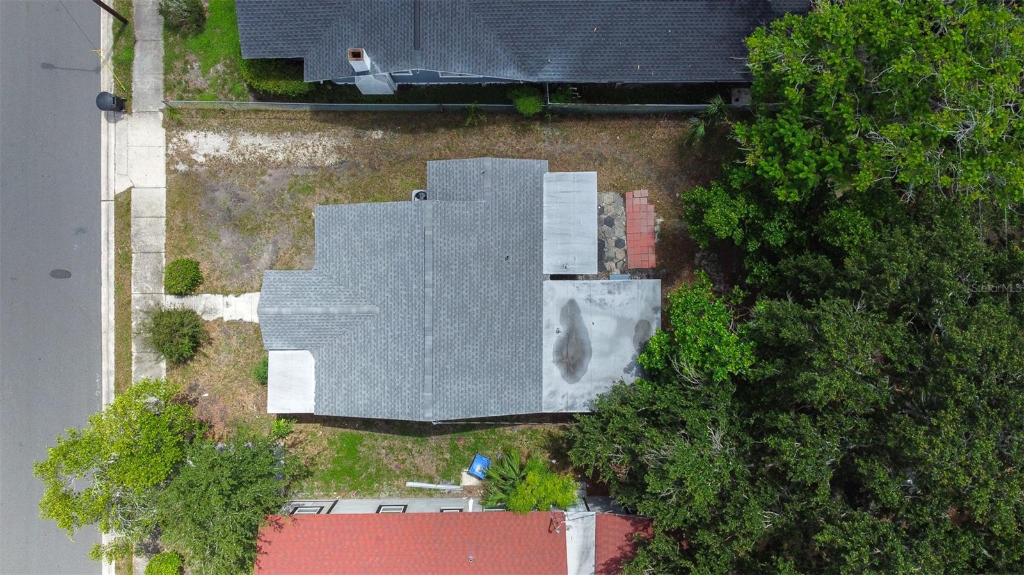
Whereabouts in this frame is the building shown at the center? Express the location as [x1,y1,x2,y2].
[256,157,661,426]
